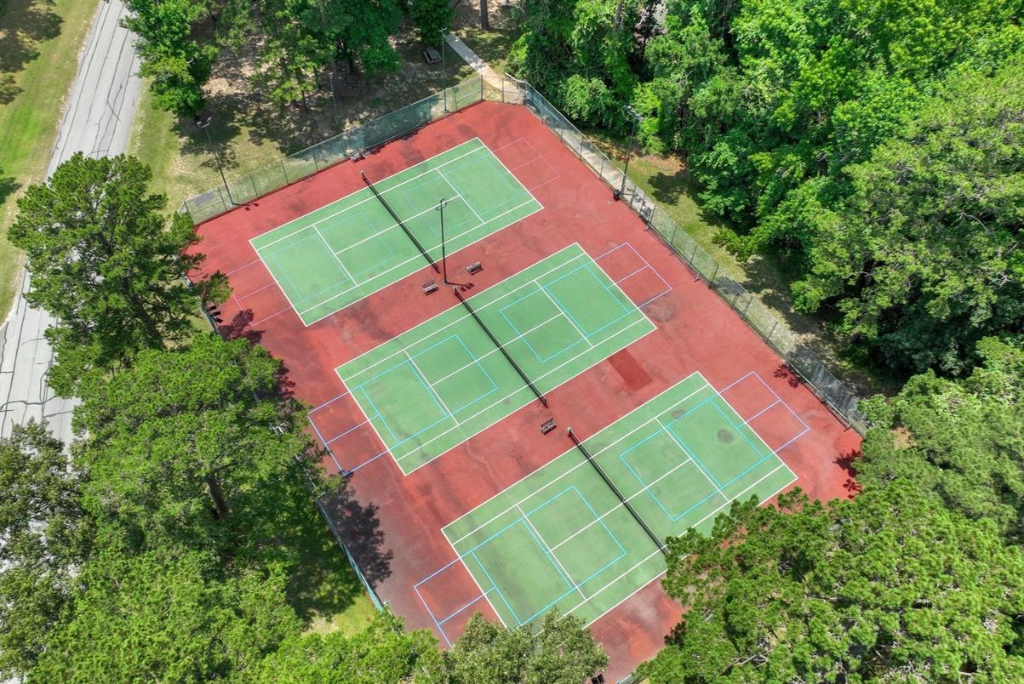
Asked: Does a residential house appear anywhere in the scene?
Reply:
No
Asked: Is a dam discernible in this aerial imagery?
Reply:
No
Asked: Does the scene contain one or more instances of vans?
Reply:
No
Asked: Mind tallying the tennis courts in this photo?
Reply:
three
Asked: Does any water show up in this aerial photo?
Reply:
No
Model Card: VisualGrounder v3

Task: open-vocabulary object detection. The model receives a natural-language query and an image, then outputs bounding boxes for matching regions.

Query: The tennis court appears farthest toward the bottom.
[414,372,809,663]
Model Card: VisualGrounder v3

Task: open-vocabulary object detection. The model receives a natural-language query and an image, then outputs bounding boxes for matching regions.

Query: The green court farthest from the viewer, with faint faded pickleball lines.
[222,138,561,326]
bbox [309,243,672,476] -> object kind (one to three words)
tennis court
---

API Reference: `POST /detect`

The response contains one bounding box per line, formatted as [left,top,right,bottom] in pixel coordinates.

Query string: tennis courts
[309,243,672,476]
[222,138,561,326]
[414,372,809,663]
